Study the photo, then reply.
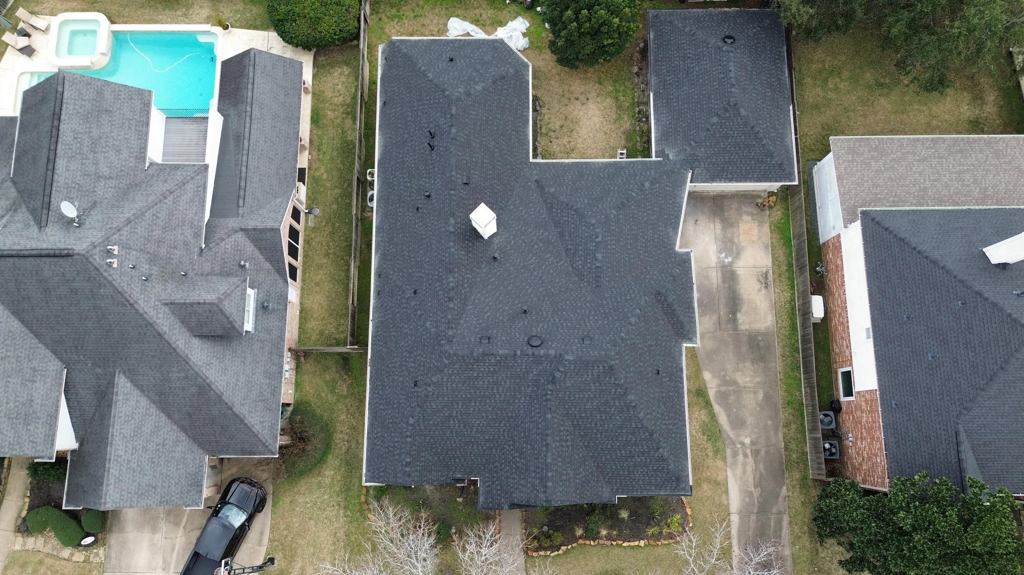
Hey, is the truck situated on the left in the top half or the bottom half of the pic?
bottom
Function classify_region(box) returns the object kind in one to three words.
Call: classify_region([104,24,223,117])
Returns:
swimming pool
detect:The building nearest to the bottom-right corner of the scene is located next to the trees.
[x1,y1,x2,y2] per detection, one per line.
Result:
[812,134,1024,502]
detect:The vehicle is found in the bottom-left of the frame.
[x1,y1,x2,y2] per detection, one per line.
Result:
[179,477,269,575]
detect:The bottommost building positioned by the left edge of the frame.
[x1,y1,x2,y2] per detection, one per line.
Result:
[0,48,313,511]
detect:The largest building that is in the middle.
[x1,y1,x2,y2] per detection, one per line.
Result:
[361,8,799,510]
